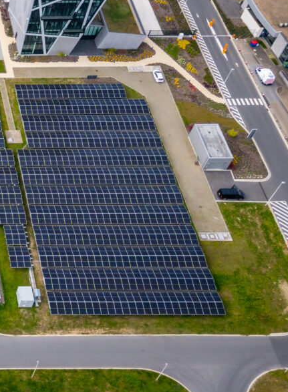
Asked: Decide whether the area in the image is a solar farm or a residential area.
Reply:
solar farm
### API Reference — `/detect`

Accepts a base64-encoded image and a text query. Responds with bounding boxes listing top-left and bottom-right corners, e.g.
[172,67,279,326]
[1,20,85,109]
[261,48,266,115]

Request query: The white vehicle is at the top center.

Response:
[150,69,166,84]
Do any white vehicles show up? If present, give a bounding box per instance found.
[150,69,166,84]
[254,67,278,87]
